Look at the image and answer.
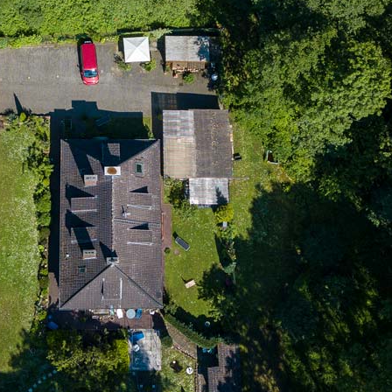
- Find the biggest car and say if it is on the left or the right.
left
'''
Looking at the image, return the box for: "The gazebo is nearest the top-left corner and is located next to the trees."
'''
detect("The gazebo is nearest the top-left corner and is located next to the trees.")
[124,36,150,62]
